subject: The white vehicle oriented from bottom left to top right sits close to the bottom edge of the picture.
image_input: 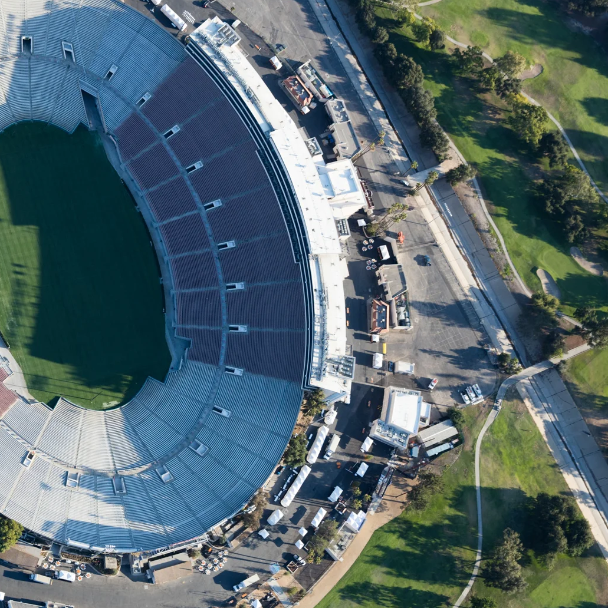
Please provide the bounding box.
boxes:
[233,572,261,593]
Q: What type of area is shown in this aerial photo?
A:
sports ground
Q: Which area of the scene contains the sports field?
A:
left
